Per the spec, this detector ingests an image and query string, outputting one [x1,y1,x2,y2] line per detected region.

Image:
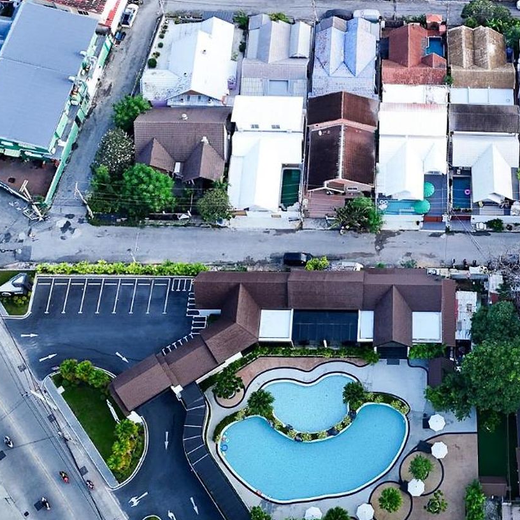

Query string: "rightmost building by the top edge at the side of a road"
[448,23,516,106]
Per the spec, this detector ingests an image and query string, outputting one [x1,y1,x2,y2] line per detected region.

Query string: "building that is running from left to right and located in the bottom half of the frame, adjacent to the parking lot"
[109,269,442,415]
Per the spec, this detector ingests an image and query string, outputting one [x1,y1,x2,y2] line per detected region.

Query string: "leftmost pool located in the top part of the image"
[280,169,302,208]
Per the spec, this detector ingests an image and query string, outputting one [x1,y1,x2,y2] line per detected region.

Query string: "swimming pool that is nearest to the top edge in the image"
[428,36,445,56]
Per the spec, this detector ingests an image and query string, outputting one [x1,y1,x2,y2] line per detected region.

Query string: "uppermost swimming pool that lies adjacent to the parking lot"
[259,373,360,434]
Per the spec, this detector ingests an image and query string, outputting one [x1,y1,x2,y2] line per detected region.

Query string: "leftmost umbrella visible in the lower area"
[302,503,323,520]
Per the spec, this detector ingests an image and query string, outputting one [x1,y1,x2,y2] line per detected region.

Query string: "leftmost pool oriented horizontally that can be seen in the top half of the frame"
[378,198,417,214]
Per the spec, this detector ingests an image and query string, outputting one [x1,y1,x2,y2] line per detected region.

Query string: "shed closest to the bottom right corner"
[481,477,507,496]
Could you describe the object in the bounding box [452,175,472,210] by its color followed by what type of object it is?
blue swimming pool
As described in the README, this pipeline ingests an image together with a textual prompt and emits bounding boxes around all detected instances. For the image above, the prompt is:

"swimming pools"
[259,373,360,434]
[378,198,417,214]
[218,402,409,503]
[428,36,445,56]
[280,169,302,208]
[452,175,472,210]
